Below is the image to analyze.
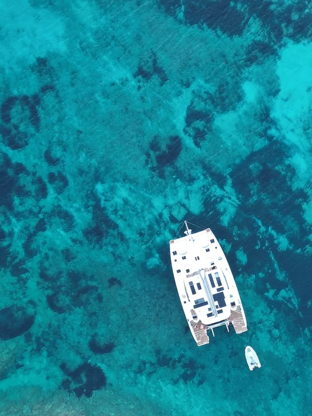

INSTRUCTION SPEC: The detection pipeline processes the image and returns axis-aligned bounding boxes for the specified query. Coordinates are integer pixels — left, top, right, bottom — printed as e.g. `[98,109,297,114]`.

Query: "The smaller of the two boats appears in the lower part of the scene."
[245,346,260,370]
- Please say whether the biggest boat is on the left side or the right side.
right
